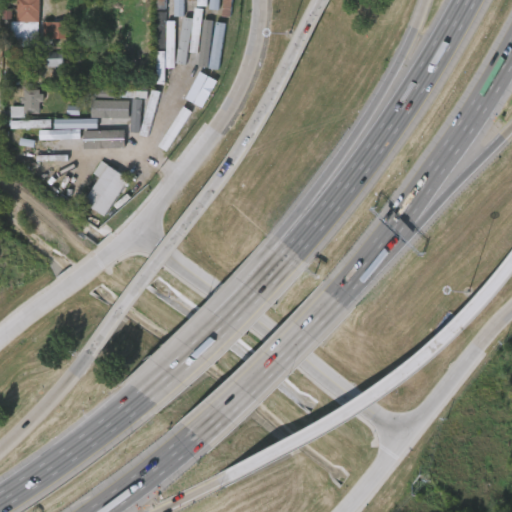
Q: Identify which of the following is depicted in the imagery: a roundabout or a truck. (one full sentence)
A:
The one in the frame is a truck.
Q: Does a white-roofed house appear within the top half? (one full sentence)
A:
Yes, a white-roofed house can be seen within the top half.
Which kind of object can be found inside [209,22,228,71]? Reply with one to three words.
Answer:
house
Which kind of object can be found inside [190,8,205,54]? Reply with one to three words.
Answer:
house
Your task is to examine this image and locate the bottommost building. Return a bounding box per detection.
[90,172,120,216]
